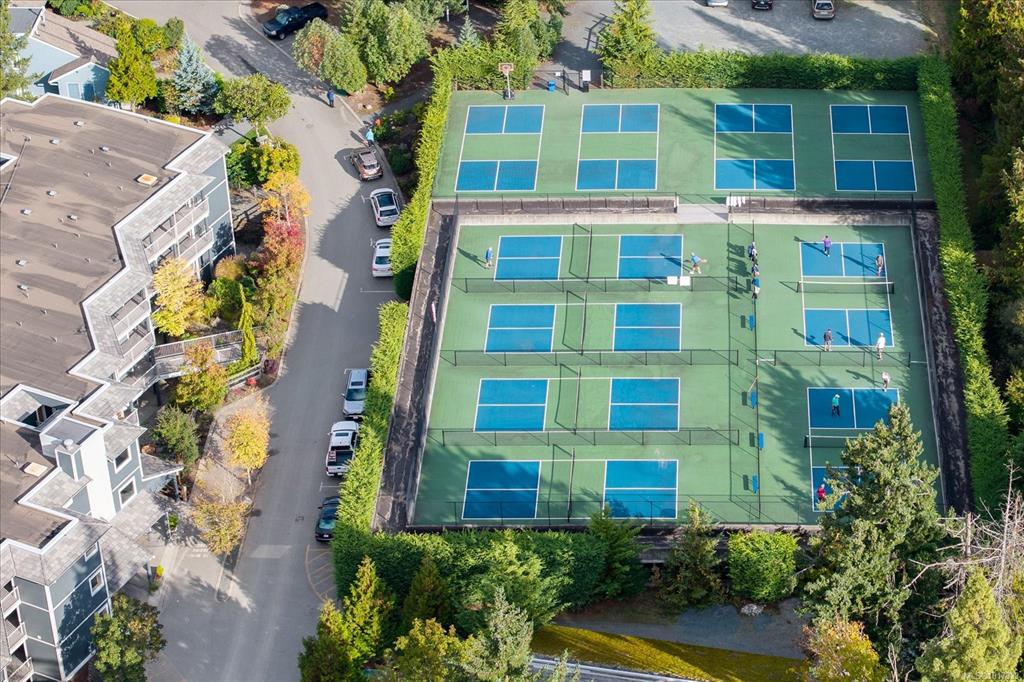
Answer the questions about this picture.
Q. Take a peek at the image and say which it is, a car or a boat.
car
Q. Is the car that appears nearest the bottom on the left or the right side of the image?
left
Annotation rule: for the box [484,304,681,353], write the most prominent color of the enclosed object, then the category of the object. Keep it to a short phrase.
blue sports court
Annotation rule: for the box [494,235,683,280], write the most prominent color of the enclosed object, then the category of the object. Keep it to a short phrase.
blue sports court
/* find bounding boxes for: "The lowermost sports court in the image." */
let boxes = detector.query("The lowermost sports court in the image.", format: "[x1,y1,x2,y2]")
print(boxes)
[462,459,678,520]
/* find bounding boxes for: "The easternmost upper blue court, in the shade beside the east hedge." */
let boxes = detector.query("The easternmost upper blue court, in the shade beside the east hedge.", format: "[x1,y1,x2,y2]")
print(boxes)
[828,104,919,190]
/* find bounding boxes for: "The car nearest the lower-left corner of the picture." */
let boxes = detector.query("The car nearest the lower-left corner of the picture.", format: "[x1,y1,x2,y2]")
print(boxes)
[304,489,343,542]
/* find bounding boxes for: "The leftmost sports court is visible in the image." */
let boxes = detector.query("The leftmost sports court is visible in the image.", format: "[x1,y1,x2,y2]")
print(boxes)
[454,105,546,191]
